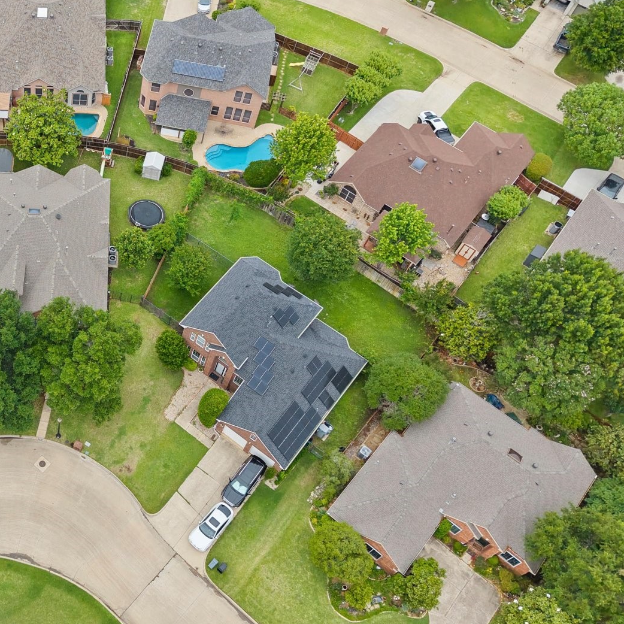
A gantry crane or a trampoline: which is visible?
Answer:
trampoline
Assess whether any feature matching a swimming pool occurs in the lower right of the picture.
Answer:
No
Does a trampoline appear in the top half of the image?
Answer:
Yes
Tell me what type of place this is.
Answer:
residential area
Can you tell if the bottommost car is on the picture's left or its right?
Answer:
left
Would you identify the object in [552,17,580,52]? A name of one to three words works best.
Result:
truck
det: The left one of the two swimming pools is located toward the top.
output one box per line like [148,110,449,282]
[73,110,102,134]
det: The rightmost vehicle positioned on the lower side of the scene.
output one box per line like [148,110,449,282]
[220,453,271,507]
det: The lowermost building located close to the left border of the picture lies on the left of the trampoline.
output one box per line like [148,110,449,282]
[0,150,110,326]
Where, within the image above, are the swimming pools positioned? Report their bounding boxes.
[73,110,102,134]
[204,132,281,172]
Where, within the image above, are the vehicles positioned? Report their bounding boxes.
[598,171,624,201]
[552,17,580,52]
[196,0,214,16]
[413,110,460,145]
[220,453,271,507]
[188,499,240,556]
